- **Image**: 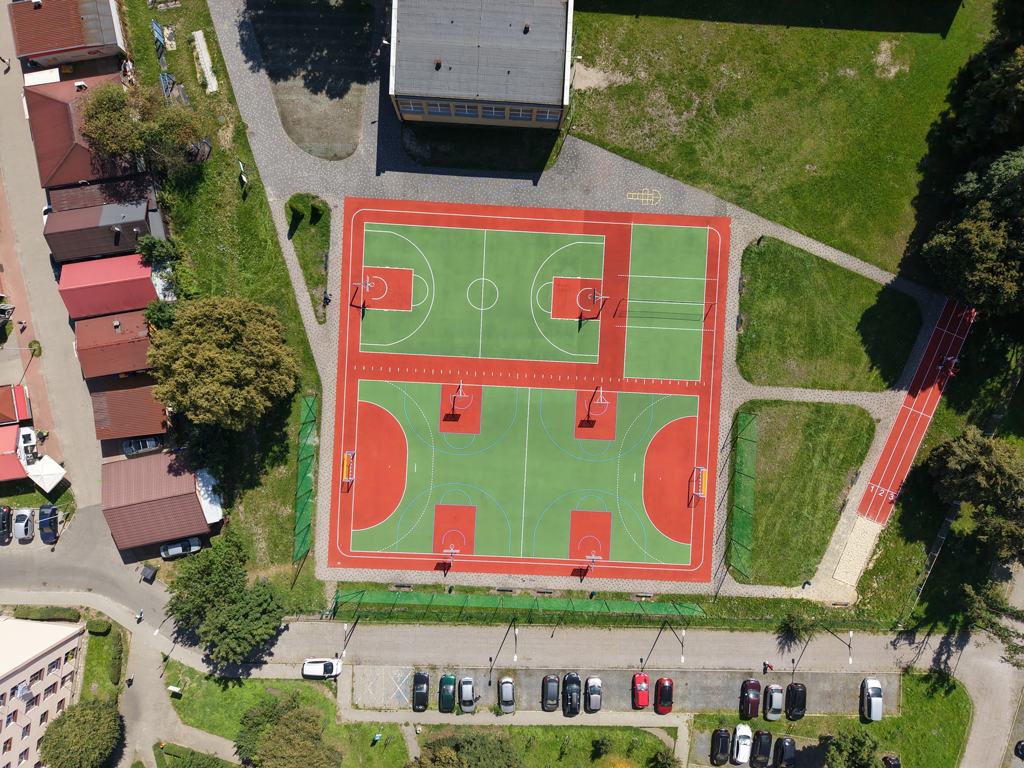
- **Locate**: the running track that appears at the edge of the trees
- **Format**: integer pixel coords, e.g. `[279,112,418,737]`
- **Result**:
[855,299,975,526]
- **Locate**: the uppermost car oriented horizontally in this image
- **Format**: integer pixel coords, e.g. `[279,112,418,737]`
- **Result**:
[122,435,165,456]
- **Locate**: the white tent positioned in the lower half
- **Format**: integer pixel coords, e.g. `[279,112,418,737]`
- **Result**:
[28,453,77,493]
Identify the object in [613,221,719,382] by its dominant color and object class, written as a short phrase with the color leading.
green sports court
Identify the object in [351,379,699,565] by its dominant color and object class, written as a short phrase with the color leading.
green sports court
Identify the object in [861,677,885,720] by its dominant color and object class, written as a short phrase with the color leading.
white car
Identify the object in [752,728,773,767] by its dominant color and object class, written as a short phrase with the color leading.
black car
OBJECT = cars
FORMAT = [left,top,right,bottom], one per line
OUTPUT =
[742,678,762,718]
[585,675,603,711]
[752,728,773,767]
[861,677,885,720]
[38,505,60,543]
[498,675,516,713]
[161,537,202,558]
[14,507,35,542]
[563,673,582,716]
[787,682,806,720]
[438,674,457,712]
[122,435,165,456]
[458,675,481,712]
[411,673,430,711]
[733,724,753,763]
[0,506,14,543]
[656,677,674,713]
[633,671,651,708]
[713,726,732,766]
[765,683,784,720]
[775,734,796,768]
[303,658,342,679]
[542,675,560,711]
[47,258,67,292]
